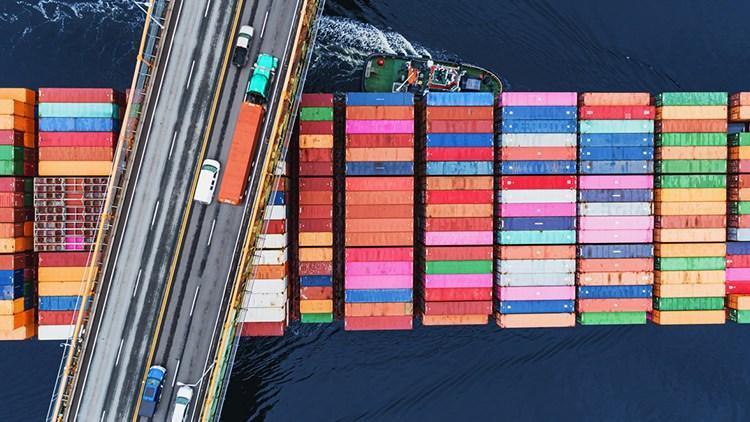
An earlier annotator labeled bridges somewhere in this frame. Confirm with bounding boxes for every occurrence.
[45,0,324,422]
